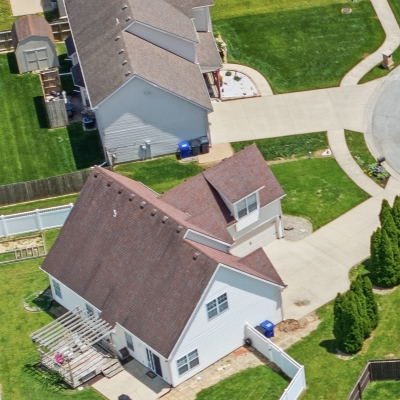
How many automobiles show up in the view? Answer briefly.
none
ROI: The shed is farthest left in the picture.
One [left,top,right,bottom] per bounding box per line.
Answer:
[9,8,59,74]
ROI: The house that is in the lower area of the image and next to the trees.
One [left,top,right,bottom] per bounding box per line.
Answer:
[41,141,287,387]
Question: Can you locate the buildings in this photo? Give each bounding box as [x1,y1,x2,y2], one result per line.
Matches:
[62,0,226,165]
[9,8,59,74]
[41,141,287,387]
